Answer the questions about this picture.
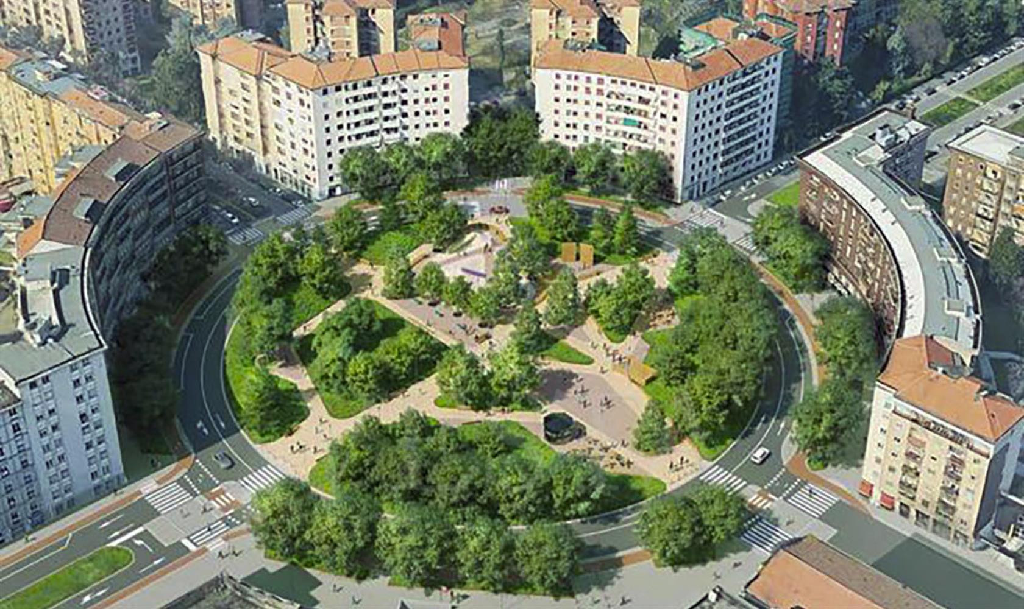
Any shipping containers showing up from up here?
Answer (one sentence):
No, there isn't any shipping container down there.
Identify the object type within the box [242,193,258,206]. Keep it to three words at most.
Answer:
vehicle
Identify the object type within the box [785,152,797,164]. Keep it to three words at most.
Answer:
vehicle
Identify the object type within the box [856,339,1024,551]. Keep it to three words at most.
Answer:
building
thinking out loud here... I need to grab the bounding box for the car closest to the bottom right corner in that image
[750,446,770,463]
